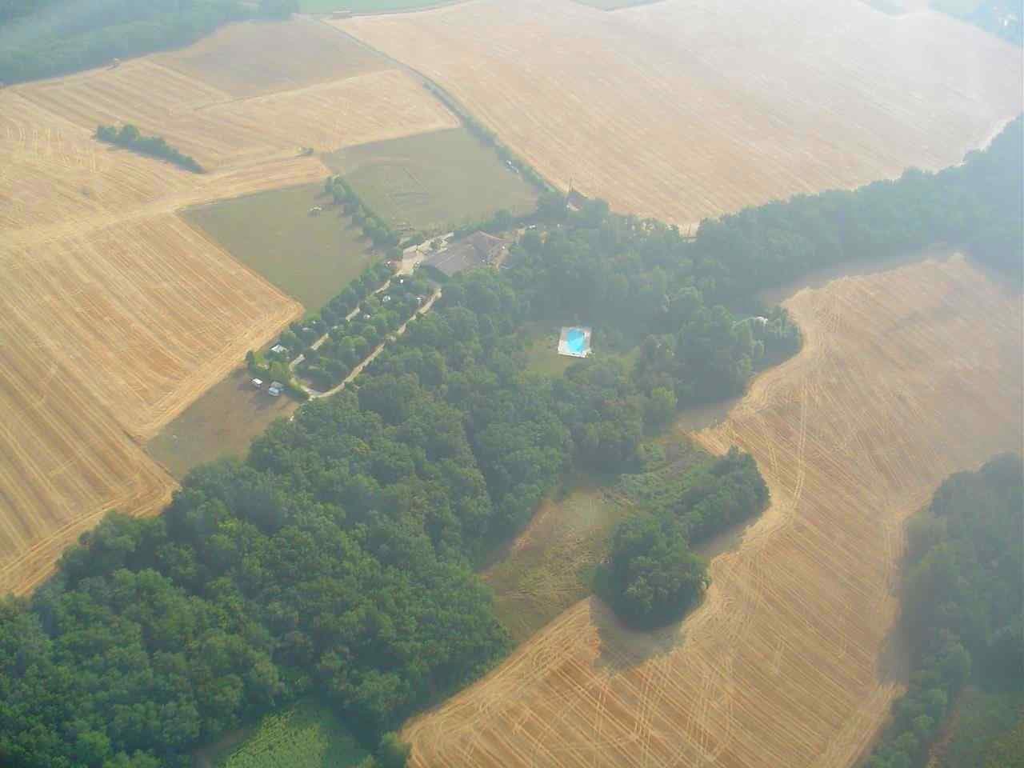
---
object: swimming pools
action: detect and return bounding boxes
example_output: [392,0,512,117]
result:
[557,326,588,356]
